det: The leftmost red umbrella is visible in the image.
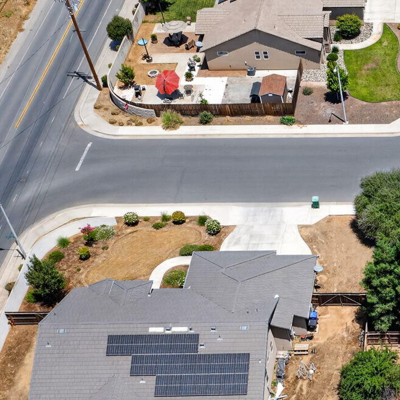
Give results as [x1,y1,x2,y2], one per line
[146,75,176,104]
